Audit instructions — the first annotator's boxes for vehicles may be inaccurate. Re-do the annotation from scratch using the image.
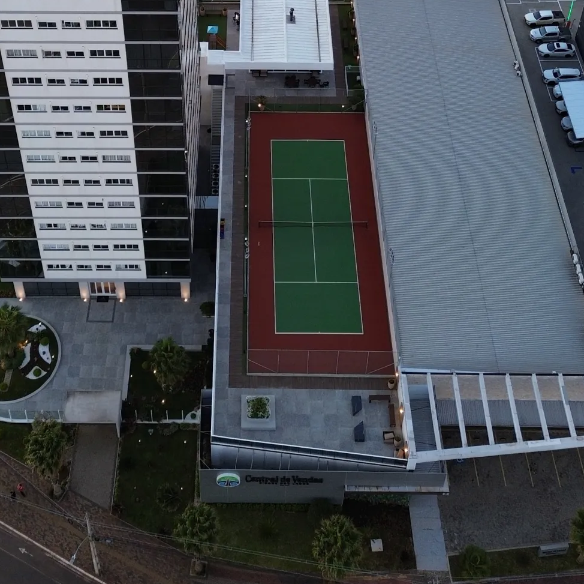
[538,42,579,59]
[557,99,567,115]
[524,8,568,27]
[561,116,573,133]
[530,24,575,44]
[542,65,584,86]
[554,84,563,100]
[565,133,584,151]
